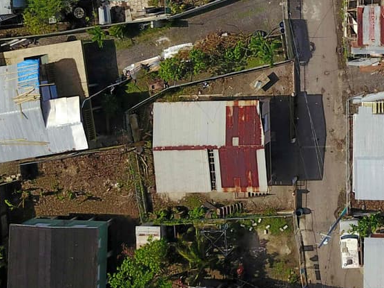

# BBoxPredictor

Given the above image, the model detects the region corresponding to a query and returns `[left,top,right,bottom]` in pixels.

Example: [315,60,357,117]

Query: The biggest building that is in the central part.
[154,86,275,192]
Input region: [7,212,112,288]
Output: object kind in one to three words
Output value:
building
